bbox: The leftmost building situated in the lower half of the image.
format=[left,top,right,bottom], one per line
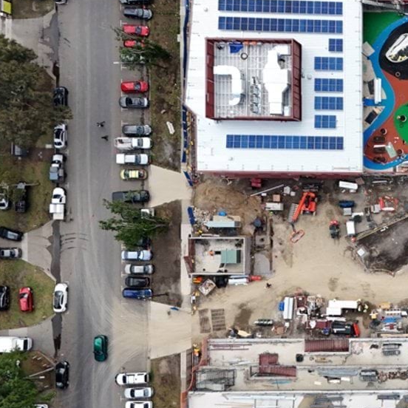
[185,237,253,277]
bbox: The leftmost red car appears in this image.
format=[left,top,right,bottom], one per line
[19,287,34,313]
